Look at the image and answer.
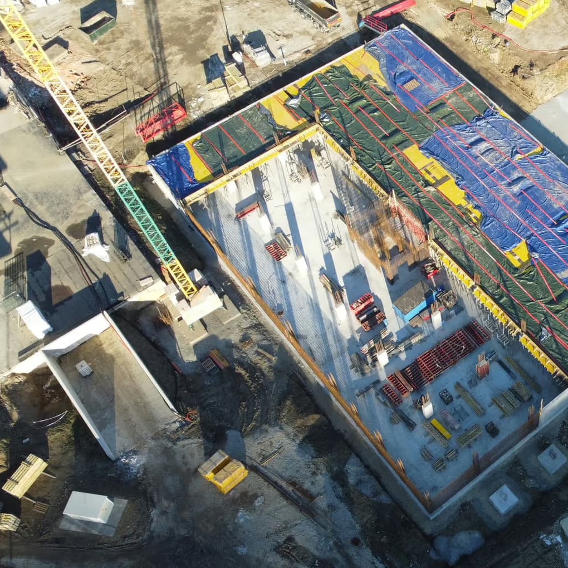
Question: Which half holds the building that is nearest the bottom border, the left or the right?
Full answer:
You can find the building that is nearest the bottom border on the left side of the picture.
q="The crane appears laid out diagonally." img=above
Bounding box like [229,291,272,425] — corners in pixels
[0,0,231,330]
